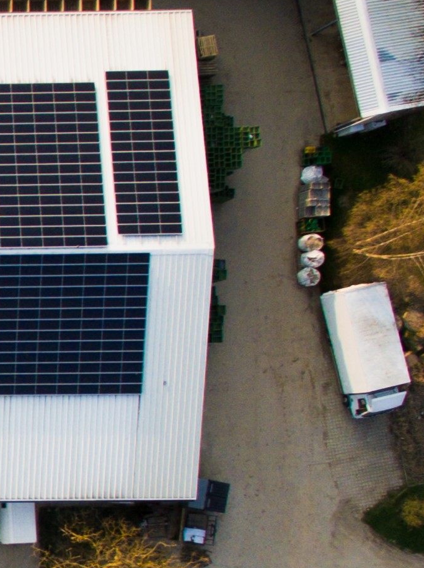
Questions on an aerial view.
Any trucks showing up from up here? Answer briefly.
Yes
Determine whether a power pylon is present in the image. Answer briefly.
No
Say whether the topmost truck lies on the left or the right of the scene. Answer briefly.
right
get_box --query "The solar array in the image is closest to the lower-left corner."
[0,254,150,394]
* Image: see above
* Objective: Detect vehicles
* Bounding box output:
[318,283,404,421]
[0,502,34,543]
